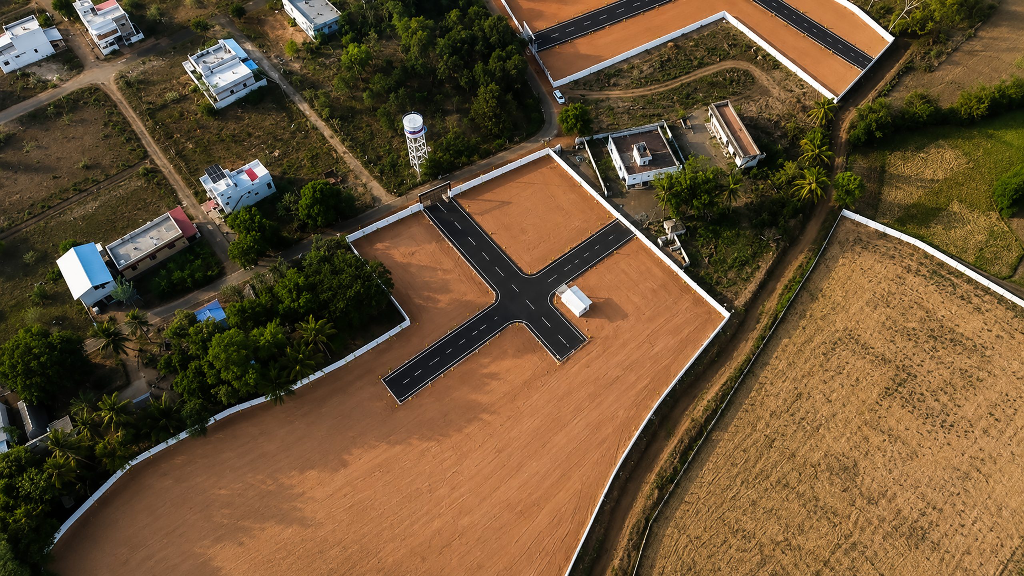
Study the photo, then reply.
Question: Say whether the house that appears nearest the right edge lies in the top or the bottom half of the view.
top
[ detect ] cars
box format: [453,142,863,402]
[553,89,565,103]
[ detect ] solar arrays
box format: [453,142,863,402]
[203,163,229,188]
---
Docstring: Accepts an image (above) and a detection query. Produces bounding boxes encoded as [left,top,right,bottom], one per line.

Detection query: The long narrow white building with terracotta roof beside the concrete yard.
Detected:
[703,100,764,168]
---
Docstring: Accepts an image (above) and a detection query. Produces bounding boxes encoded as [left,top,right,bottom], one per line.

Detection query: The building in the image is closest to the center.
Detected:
[555,285,593,317]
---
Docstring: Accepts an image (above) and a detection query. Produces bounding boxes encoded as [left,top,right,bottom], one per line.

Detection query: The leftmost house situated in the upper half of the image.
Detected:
[0,15,69,73]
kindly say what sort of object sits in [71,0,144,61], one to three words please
house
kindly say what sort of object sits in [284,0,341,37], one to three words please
house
